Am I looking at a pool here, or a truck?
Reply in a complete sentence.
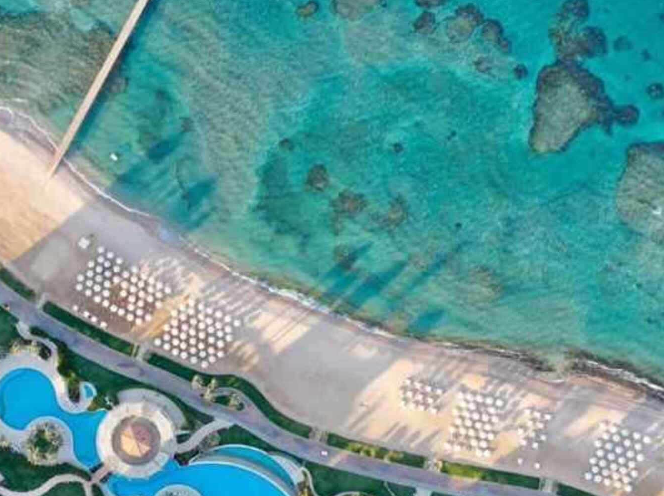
This aerial view contains a pool.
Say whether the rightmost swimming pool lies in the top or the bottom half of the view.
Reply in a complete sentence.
You can find the rightmost swimming pool in the bottom half.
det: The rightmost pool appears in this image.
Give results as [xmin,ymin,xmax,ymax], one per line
[204,444,298,493]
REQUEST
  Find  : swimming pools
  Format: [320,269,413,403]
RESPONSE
[109,459,284,496]
[204,444,298,493]
[0,366,108,468]
[83,382,95,400]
